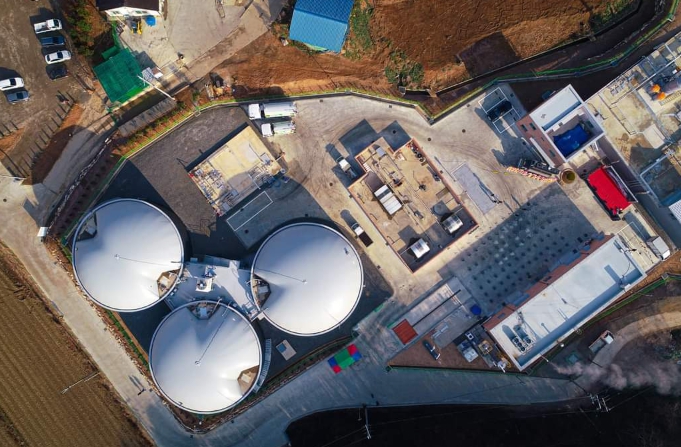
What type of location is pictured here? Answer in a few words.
industrial area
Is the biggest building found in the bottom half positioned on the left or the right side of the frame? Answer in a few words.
right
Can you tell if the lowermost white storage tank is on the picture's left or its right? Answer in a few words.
left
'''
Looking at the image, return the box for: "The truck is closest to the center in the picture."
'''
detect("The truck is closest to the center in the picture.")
[349,222,376,249]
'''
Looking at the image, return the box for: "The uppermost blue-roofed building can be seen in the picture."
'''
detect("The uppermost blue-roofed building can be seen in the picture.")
[289,0,358,53]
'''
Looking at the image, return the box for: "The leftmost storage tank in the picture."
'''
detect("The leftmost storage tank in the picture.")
[72,198,197,310]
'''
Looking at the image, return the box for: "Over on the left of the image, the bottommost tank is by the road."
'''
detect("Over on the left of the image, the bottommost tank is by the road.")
[150,298,273,413]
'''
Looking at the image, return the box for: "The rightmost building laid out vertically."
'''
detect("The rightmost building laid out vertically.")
[582,27,681,241]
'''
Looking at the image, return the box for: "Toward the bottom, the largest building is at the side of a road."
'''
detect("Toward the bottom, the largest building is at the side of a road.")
[479,226,646,371]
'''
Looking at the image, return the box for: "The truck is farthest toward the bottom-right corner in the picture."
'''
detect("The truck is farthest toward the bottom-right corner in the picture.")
[587,331,616,356]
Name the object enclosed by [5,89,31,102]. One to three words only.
vehicle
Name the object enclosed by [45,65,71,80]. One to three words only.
car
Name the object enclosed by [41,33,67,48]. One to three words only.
car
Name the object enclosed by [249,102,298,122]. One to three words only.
vehicle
